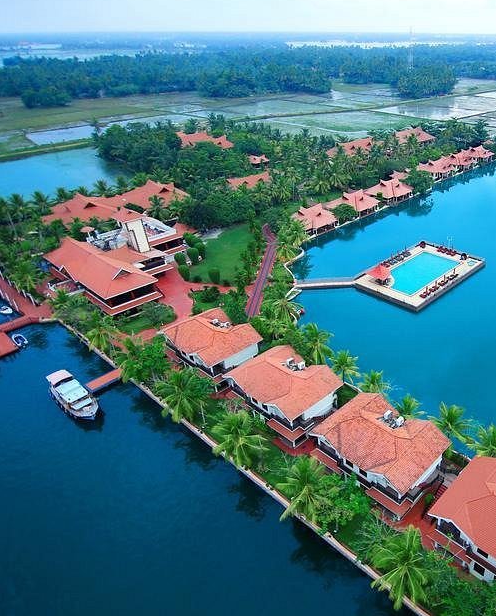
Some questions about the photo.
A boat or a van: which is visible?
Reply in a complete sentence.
Of the two, only a boat appears.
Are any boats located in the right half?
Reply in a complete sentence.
No, the scene shows no boat in the right half.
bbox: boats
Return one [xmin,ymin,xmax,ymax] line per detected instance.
[43,369,100,421]
[8,333,24,343]
[0,307,14,314]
